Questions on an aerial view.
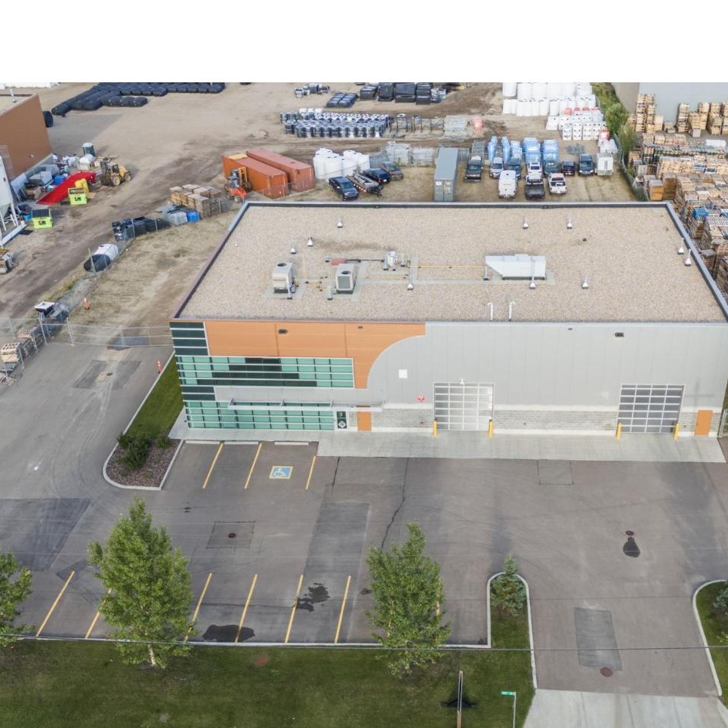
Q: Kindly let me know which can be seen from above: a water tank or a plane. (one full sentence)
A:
The one in the frame is a water tank.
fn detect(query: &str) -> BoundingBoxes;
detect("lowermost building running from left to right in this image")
[168,202,728,437]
